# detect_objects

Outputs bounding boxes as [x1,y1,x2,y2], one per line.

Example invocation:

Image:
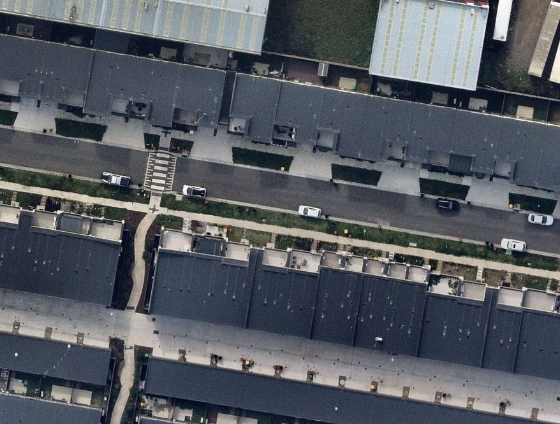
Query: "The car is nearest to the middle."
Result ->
[298,204,322,217]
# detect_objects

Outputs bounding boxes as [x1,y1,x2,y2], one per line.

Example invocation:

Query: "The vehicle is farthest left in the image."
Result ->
[101,173,132,188]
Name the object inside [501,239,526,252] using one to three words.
vehicle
